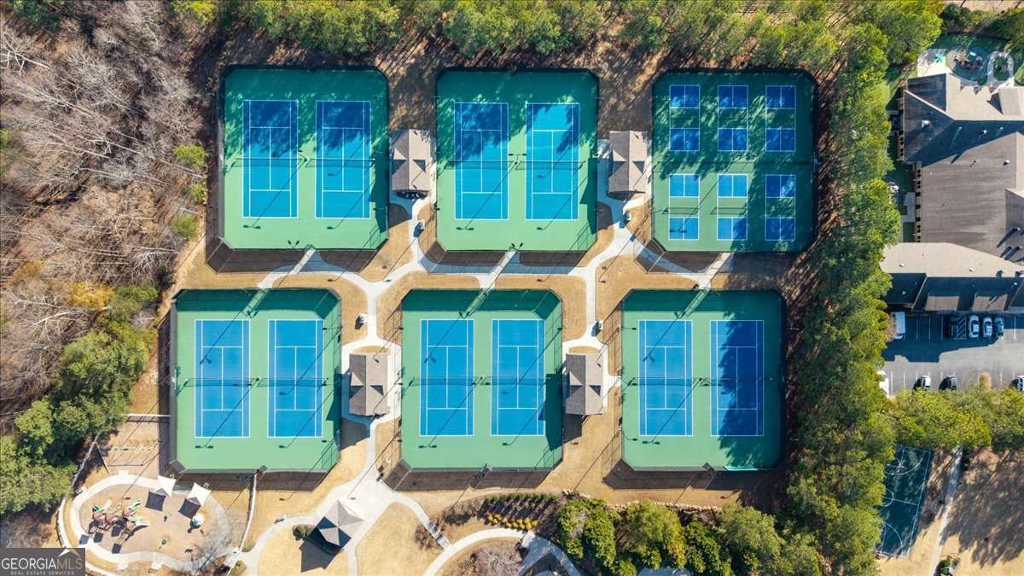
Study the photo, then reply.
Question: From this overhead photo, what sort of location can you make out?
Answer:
sports ground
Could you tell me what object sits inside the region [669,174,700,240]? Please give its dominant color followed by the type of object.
blue sports court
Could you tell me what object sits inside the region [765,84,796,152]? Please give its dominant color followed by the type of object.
blue sports court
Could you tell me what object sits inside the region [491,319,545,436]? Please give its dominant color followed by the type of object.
blue tennis court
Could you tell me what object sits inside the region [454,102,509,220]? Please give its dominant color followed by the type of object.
blue tennis court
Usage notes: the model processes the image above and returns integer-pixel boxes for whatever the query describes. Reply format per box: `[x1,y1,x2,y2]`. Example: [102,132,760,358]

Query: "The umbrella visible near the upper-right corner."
[936,48,951,65]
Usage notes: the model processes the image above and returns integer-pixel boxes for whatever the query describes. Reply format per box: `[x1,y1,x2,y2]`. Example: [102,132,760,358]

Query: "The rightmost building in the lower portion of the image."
[565,354,604,417]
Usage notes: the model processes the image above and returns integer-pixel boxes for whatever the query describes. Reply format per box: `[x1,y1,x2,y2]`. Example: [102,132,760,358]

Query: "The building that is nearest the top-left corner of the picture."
[392,127,430,190]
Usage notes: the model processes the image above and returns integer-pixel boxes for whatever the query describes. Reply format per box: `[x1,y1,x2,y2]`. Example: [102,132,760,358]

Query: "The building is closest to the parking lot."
[874,73,1024,312]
